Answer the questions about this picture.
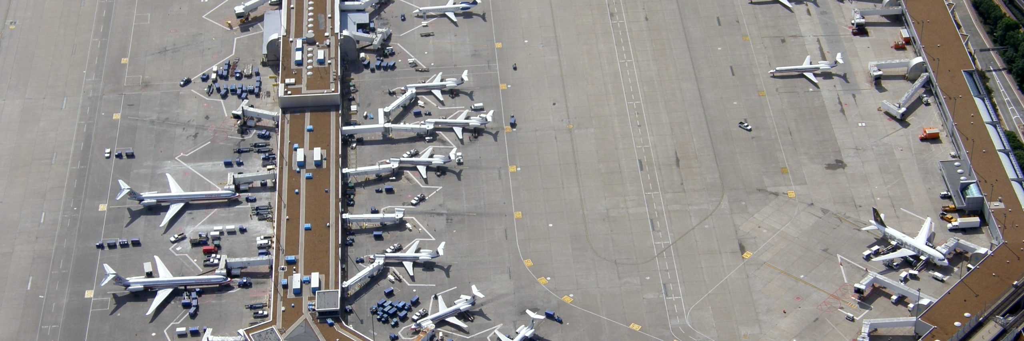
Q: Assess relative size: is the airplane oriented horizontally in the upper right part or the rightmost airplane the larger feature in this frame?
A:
the rightmost airplane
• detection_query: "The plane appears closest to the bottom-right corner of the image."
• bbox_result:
[859,205,948,265]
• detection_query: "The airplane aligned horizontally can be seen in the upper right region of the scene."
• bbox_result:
[769,53,842,83]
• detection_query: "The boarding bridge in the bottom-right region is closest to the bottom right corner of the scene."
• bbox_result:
[938,238,987,260]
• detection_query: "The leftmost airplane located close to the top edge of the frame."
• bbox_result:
[414,0,481,24]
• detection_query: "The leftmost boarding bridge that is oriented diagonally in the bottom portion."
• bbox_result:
[341,254,387,300]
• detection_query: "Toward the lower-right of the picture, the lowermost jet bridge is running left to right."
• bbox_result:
[857,318,916,341]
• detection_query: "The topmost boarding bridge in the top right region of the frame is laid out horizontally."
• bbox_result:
[852,9,903,29]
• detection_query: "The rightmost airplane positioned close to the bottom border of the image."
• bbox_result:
[491,309,545,341]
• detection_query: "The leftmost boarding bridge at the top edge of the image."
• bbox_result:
[234,0,267,23]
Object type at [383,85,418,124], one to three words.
jet bridge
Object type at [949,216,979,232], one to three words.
vehicle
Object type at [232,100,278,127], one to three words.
jet bridge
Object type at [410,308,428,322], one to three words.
vehicle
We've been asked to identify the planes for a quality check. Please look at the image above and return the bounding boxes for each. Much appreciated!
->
[112,174,241,227]
[401,70,472,100]
[491,309,545,341]
[400,147,461,178]
[859,205,948,265]
[414,0,481,24]
[369,241,448,276]
[97,256,232,315]
[410,284,487,331]
[777,0,788,8]
[434,109,494,139]
[769,53,842,83]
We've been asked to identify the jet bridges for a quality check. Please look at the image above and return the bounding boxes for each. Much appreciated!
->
[341,158,402,188]
[415,319,439,341]
[857,318,916,341]
[383,85,418,124]
[867,61,909,83]
[938,238,987,260]
[204,327,246,341]
[341,254,387,300]
[854,272,934,308]
[232,100,278,127]
[217,255,273,280]
[234,0,267,23]
[341,208,405,234]
[350,28,391,53]
[880,74,931,122]
[852,9,903,29]
[341,0,381,11]
[383,119,435,144]
[225,171,276,193]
